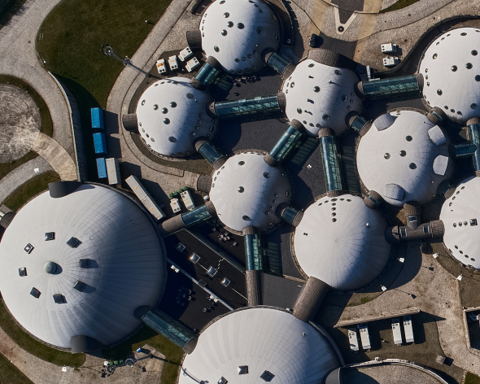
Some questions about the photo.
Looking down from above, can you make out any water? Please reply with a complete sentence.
No, no water is visible.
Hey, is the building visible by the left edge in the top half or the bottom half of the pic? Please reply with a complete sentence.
The building visible by the left edge is in the bottom half of the image.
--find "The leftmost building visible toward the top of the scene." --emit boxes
[119,76,215,156]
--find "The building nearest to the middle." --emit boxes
[198,149,293,233]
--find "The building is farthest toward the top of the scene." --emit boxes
[185,0,281,74]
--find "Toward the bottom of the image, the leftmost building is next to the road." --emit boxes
[0,176,167,355]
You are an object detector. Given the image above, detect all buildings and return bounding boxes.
[119,76,215,156]
[354,108,455,208]
[198,149,293,233]
[176,308,350,384]
[291,190,394,293]
[0,176,167,355]
[438,174,480,271]
[280,48,363,140]
[418,25,480,125]
[185,0,281,74]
